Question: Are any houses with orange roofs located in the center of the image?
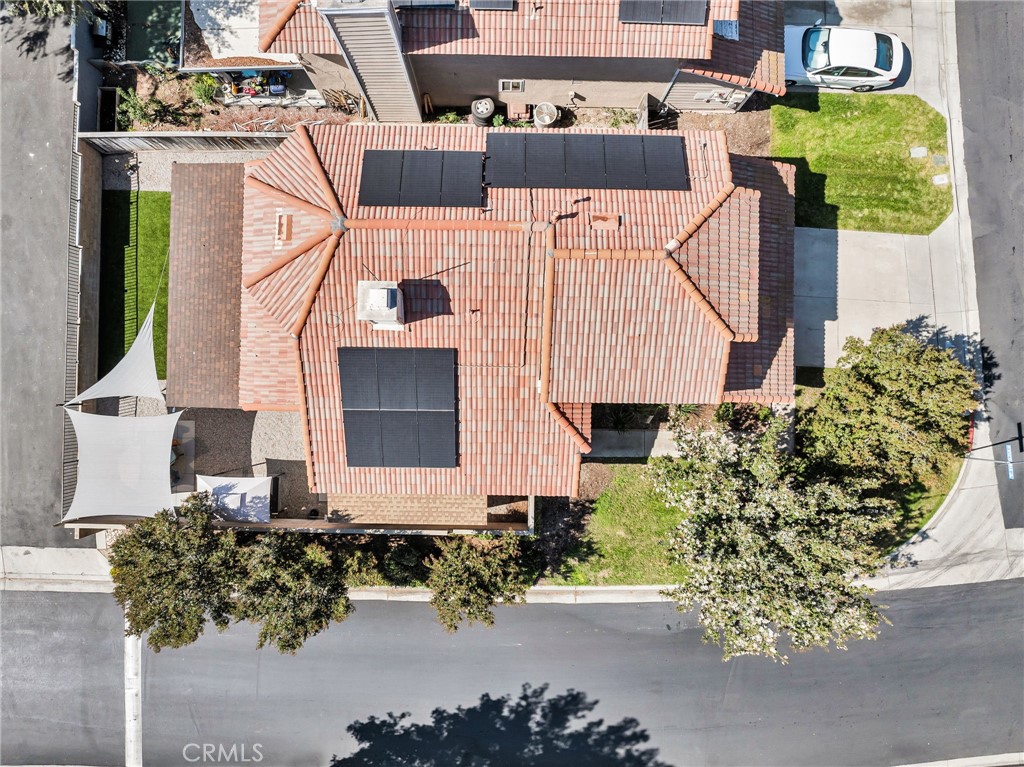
No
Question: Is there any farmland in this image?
No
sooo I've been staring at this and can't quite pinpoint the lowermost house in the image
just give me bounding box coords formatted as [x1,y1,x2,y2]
[167,124,800,526]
